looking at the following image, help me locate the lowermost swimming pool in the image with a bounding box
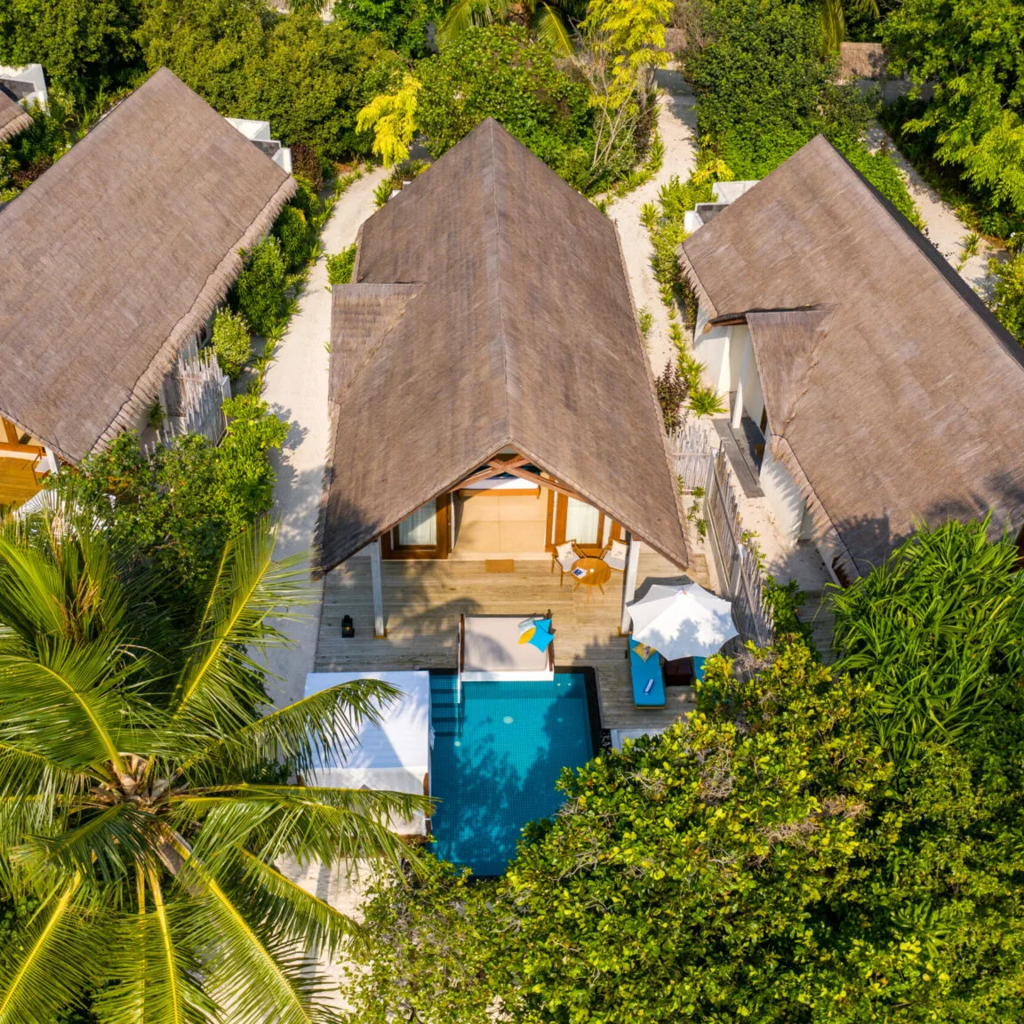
[413,666,608,888]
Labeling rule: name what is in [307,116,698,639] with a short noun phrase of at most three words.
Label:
house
